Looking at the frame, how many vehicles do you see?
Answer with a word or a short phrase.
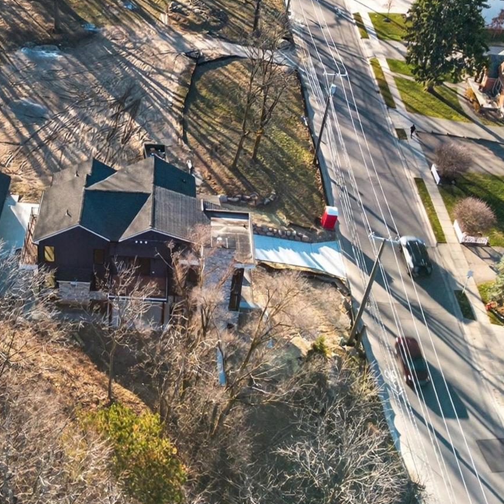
2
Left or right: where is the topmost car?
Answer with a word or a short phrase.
right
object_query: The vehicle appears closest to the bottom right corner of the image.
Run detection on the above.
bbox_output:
[396,332,435,394]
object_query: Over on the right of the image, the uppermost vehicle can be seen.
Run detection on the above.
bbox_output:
[401,231,435,282]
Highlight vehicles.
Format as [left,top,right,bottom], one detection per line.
[401,231,435,282]
[396,332,435,394]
